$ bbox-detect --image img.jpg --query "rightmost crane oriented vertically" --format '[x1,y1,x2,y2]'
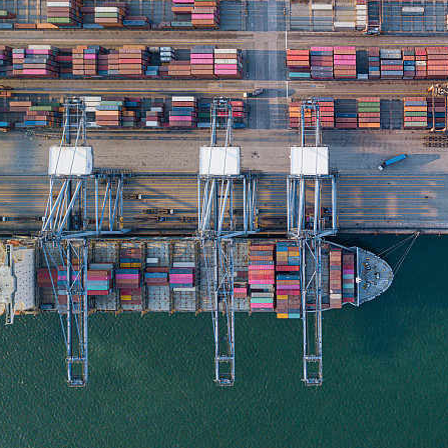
[425,82,448,134]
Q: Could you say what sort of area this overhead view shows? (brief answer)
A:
port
